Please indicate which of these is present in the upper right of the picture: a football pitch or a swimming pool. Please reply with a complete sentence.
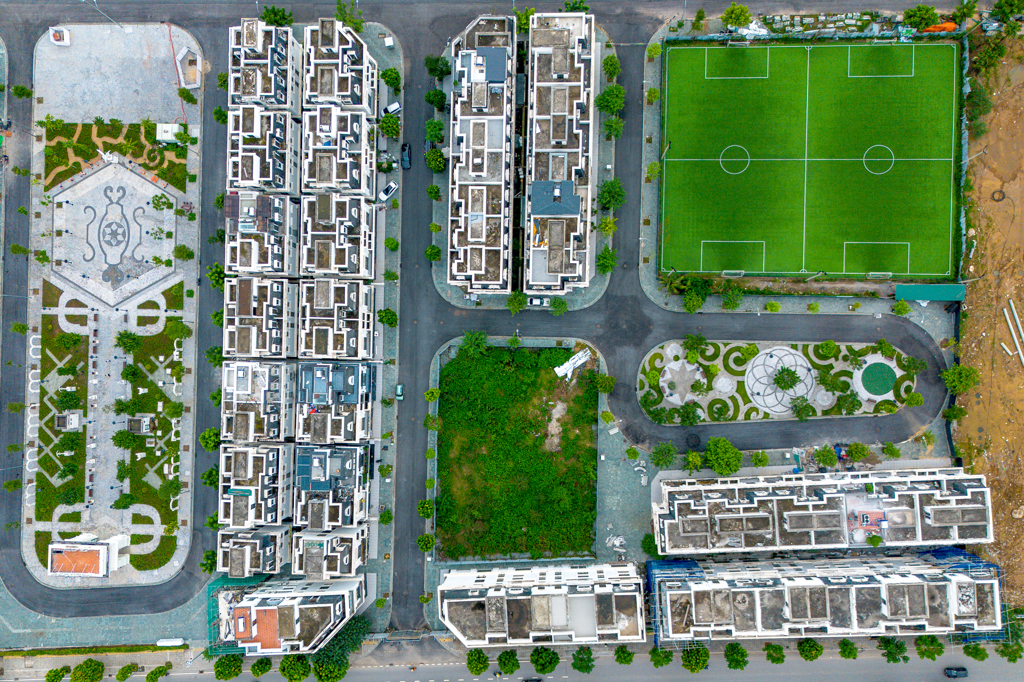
Visible in the upper right of the picture is a football pitch.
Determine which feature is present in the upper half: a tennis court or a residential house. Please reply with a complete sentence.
Looking in the upper half, you will find a residential house.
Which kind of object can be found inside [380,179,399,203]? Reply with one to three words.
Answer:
car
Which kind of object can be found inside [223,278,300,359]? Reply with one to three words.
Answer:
house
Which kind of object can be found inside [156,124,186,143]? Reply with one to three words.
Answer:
building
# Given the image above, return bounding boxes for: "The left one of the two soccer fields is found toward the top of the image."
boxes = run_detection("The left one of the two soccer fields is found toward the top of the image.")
[659,37,810,285]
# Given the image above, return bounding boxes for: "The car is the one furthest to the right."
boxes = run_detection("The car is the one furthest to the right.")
[943,666,968,679]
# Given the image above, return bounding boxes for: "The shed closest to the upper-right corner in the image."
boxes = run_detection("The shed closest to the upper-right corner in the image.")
[889,284,965,301]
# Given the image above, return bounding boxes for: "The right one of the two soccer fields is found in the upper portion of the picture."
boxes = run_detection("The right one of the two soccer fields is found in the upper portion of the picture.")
[804,33,958,285]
